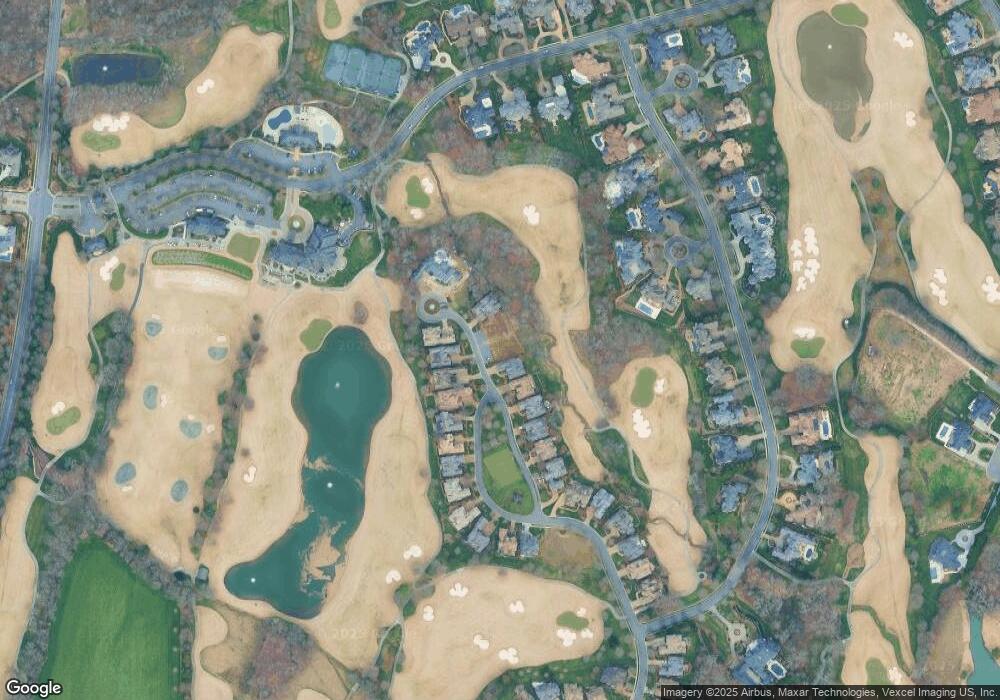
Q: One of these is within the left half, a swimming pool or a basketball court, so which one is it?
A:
swimming pool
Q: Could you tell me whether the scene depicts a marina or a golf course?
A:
golf course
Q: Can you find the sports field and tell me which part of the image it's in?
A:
bottom left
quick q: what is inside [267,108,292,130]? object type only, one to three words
swimming pool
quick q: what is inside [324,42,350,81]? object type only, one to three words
tennis court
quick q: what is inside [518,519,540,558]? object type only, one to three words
house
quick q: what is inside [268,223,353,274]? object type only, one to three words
building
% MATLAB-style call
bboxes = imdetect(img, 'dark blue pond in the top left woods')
[73,54,160,83]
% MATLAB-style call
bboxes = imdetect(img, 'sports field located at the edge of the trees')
[27,539,188,700]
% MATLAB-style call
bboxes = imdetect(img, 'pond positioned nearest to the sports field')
[226,327,391,618]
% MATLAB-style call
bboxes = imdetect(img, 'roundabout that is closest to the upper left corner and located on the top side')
[278,206,313,240]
